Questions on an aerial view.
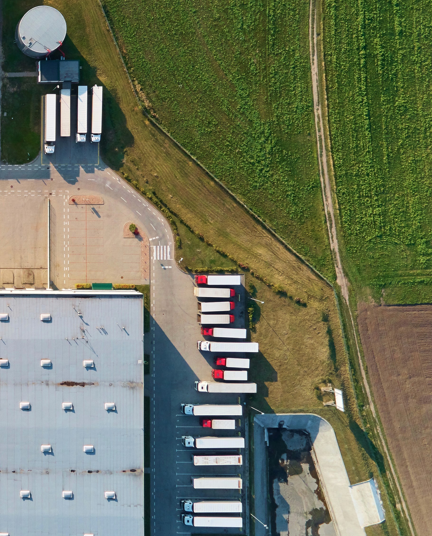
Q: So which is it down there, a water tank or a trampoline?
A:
water tank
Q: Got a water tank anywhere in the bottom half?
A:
No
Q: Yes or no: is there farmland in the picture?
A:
Yes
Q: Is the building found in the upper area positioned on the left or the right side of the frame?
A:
left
